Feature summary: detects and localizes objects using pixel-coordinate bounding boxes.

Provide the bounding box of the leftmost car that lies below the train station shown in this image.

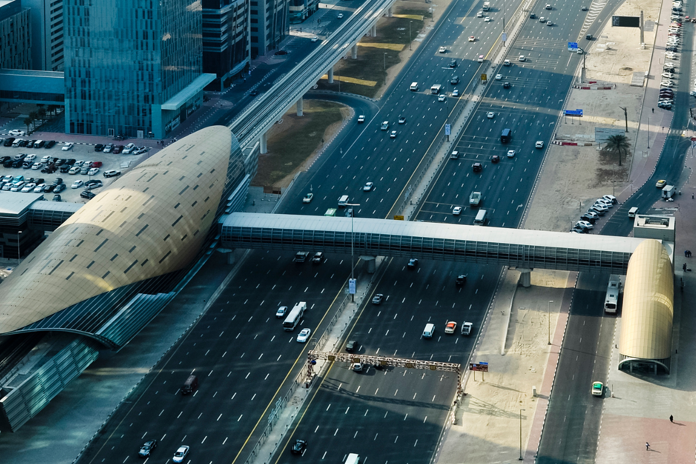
[138,439,162,454]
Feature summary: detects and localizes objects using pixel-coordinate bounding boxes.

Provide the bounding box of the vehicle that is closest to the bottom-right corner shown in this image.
[593,379,607,393]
